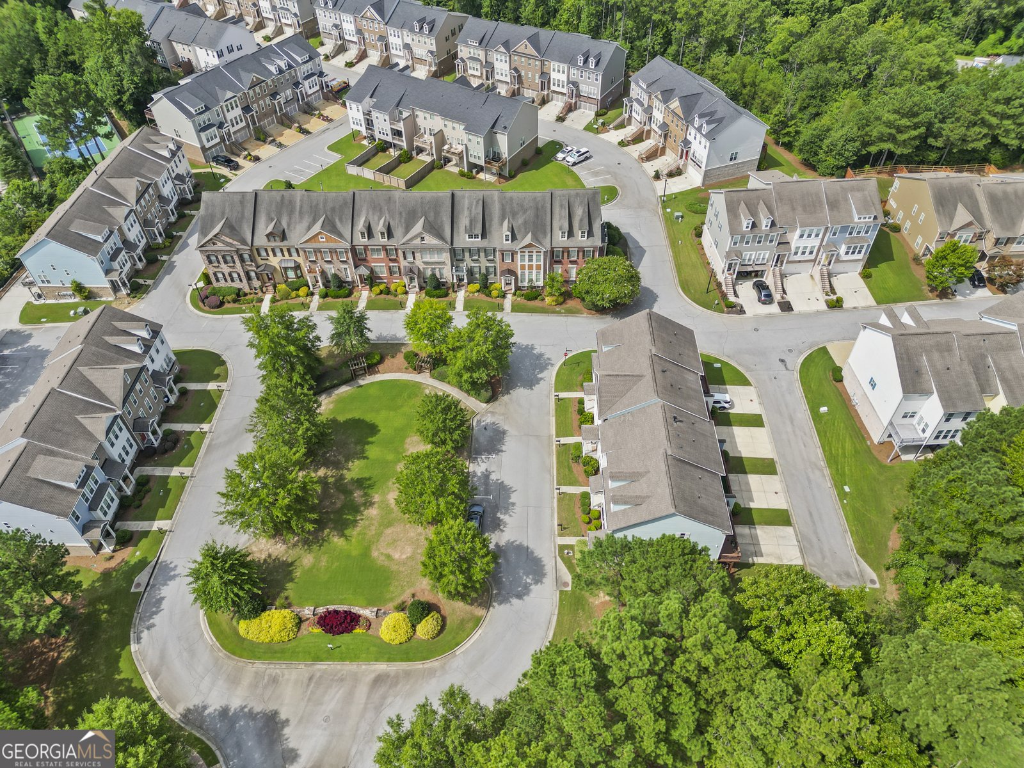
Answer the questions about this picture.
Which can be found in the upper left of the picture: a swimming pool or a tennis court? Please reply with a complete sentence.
Visible in the upper left of the picture is a tennis court.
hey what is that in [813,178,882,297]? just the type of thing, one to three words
house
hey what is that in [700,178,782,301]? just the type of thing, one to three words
house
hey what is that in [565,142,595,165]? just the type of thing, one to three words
car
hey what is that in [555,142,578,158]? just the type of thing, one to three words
car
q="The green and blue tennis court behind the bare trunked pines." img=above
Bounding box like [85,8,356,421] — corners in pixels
[13,109,123,182]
